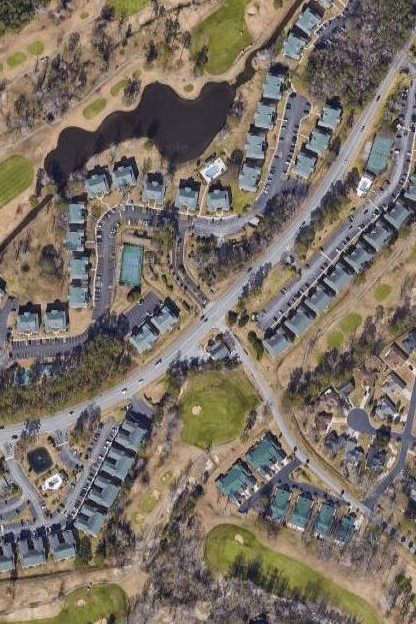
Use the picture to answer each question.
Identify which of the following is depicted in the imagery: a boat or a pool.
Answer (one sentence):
There is a pool in the scene.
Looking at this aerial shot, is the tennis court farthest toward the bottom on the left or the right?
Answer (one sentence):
You can find the tennis court farthest toward the bottom on the left side of the picture.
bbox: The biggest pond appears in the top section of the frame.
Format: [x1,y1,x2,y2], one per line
[44,81,236,197]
